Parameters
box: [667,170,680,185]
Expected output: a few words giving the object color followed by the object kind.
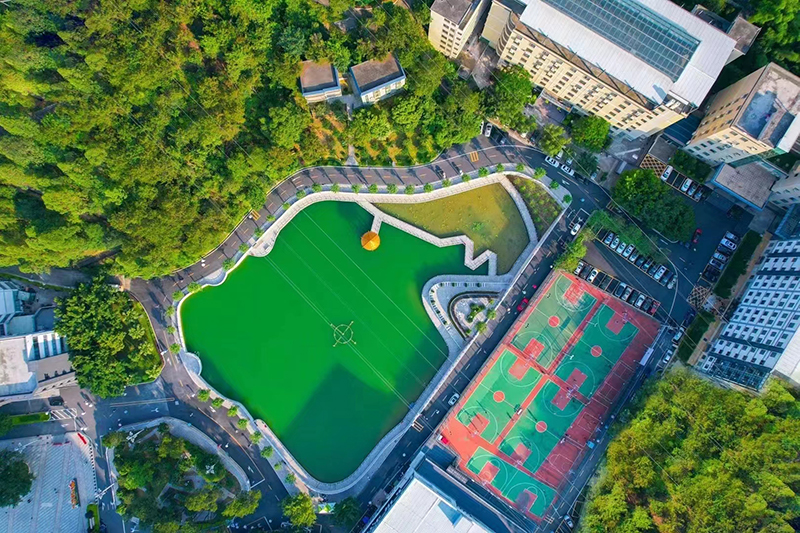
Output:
black vehicle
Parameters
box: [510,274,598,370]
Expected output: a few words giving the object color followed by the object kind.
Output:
green basketball court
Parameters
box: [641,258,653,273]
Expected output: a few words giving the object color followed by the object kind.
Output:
blue vehicle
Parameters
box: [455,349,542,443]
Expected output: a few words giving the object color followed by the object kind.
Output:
green basketball court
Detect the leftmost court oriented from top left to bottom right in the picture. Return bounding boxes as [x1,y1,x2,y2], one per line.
[465,446,557,518]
